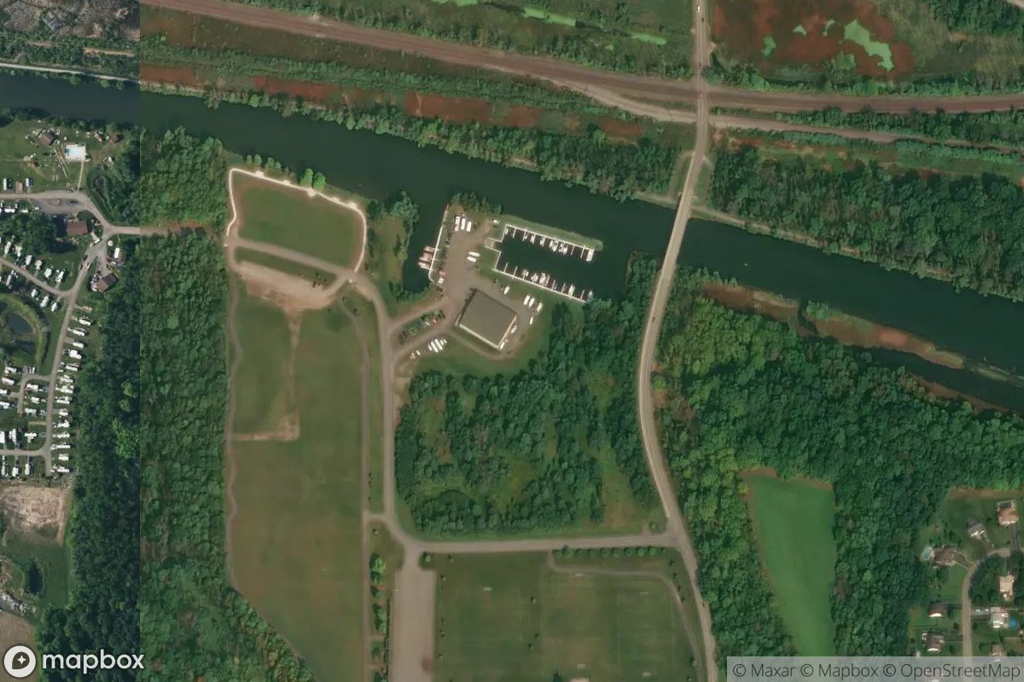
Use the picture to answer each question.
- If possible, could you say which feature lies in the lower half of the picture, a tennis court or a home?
home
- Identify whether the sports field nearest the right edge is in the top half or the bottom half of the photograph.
bottom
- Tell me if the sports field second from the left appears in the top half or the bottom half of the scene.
bottom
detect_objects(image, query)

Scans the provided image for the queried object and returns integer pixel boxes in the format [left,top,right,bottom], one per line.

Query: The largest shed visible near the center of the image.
[460,289,517,350]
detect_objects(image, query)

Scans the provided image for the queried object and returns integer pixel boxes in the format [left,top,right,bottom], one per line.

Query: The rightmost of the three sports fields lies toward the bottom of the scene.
[619,594,673,677]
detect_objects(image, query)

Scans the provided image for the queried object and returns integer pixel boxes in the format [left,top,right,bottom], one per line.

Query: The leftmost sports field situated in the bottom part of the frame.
[462,590,517,682]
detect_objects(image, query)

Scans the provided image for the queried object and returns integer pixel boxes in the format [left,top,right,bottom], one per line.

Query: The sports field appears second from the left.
[555,577,604,667]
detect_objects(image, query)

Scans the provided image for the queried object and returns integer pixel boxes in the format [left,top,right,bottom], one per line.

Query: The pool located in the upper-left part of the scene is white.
[65,144,86,161]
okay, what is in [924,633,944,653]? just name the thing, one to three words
house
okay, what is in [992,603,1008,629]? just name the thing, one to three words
house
